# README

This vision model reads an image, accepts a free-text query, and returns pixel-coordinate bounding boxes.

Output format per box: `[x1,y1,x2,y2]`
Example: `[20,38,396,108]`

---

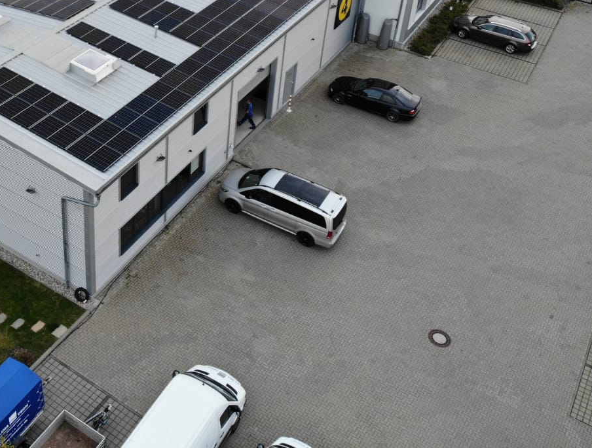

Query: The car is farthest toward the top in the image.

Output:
[445,9,537,49]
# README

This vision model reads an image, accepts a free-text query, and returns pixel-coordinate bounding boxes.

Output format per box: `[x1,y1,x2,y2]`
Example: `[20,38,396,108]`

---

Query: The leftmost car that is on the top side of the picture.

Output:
[325,69,422,117]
